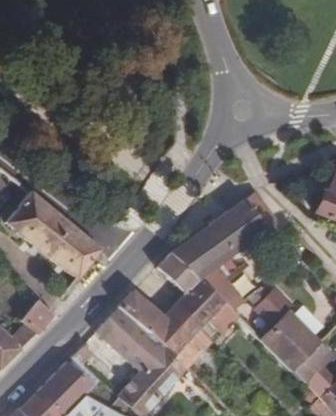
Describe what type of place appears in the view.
residential area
